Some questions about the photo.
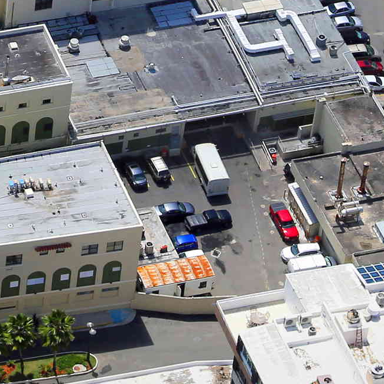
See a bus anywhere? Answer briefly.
Yes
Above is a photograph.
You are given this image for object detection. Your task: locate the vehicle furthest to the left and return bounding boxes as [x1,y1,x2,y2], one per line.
[124,159,148,194]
